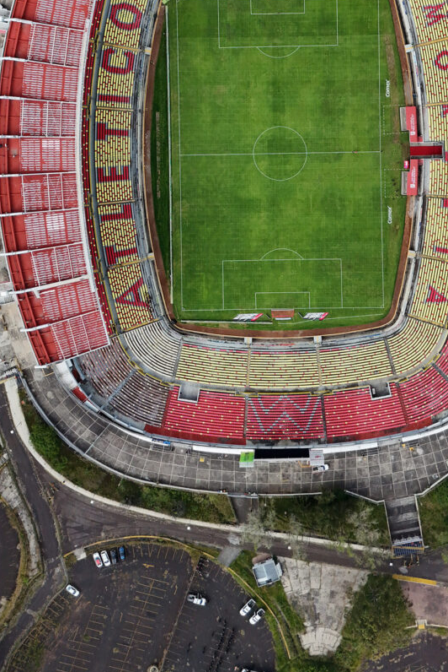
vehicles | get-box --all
[241,601,255,617]
[92,554,101,569]
[108,551,116,566]
[251,610,265,627]
[100,552,109,568]
[117,548,125,562]
[188,596,205,606]
[65,586,78,598]
[313,464,330,473]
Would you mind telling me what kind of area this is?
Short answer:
sports ground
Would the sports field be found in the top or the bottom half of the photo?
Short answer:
top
